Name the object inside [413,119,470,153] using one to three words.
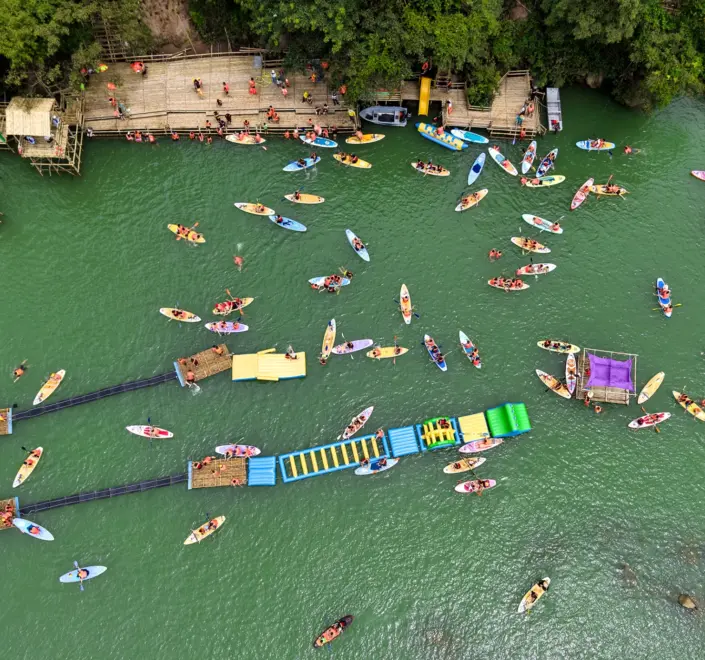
boat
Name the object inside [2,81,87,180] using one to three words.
shed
